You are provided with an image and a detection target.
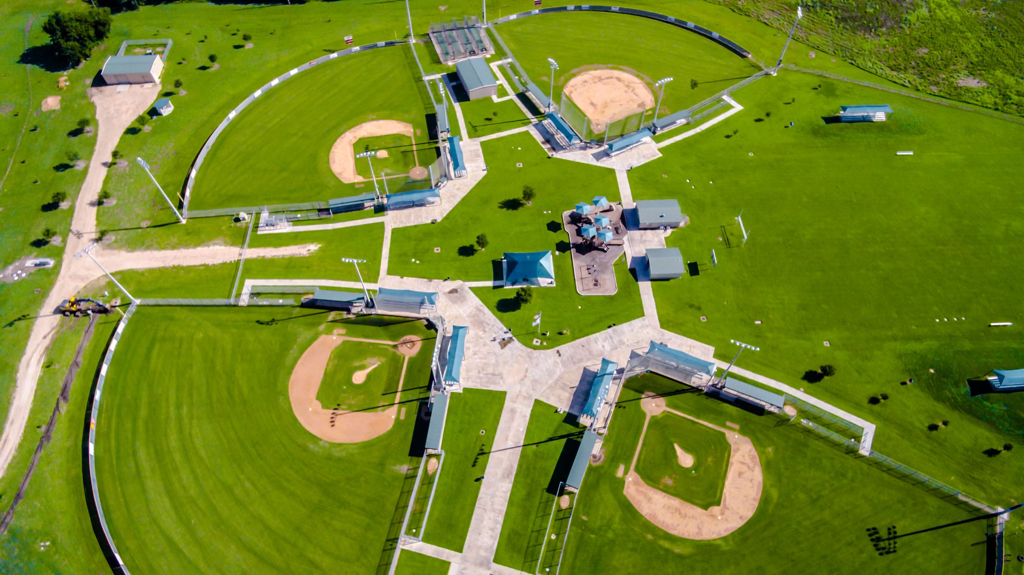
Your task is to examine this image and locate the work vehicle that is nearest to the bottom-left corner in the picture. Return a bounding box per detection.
[50,295,104,314]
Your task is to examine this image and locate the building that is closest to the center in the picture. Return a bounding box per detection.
[502,250,555,289]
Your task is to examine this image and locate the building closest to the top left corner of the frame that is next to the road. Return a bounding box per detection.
[101,54,164,88]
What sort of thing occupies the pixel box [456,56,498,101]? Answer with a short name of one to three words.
building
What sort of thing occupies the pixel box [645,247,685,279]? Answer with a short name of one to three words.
shed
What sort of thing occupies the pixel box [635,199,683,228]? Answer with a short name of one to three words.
shed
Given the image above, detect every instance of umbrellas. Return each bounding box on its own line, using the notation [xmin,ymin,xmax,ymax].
[593,197,607,212]
[575,203,590,219]
[598,231,613,246]
[594,216,609,231]
[581,227,596,240]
